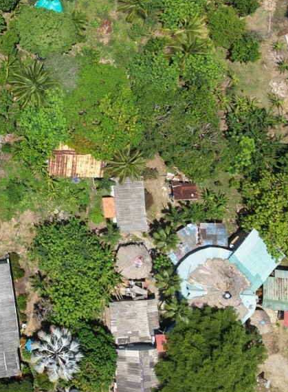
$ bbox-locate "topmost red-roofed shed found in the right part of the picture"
[168,180,198,200]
